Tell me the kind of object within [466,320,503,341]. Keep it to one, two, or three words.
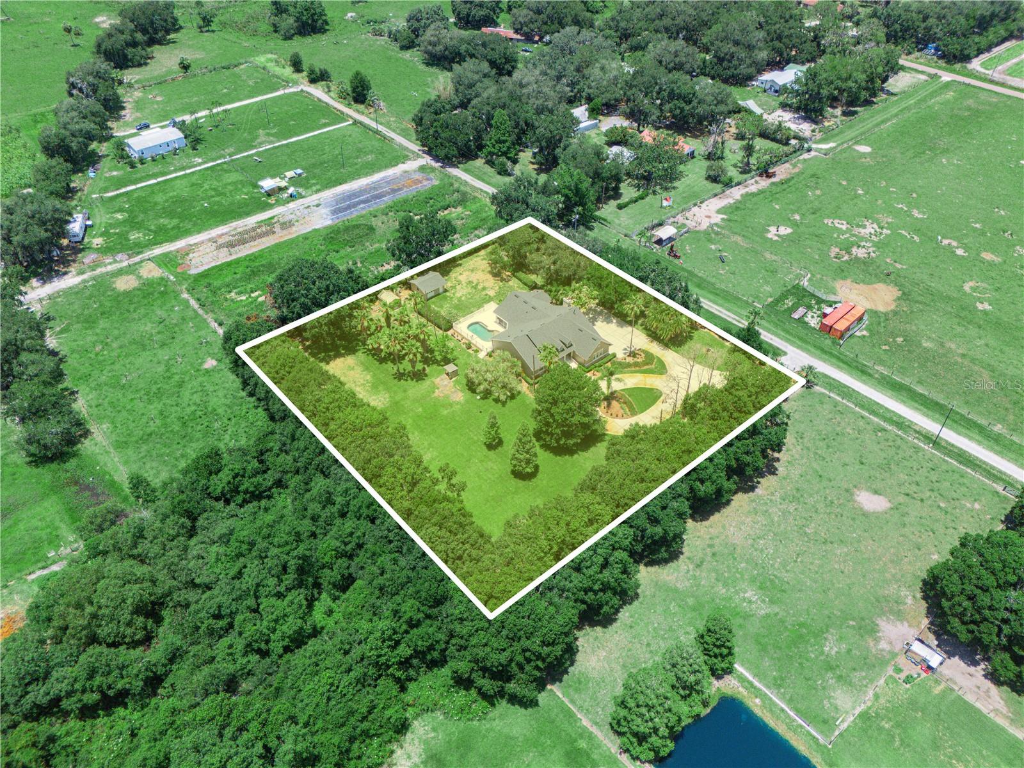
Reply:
swimming pool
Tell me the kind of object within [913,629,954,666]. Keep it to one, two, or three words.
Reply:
shed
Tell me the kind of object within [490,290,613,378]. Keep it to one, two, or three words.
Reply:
house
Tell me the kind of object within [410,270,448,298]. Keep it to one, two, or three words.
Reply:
shed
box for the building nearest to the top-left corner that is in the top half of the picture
[125,130,185,159]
